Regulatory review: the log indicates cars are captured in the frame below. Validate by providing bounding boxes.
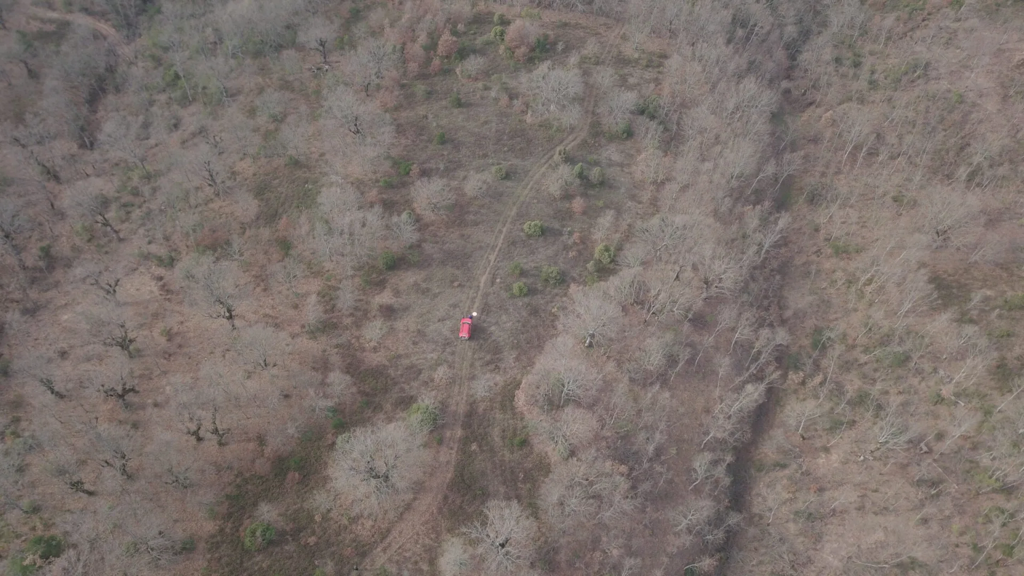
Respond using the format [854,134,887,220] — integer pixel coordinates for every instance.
[461,319,473,340]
